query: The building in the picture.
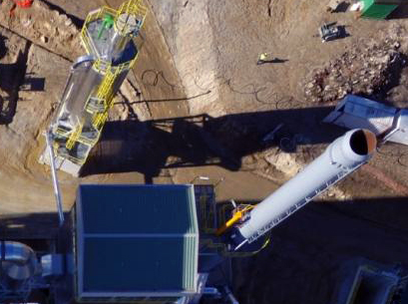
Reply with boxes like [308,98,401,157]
[33,184,207,304]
